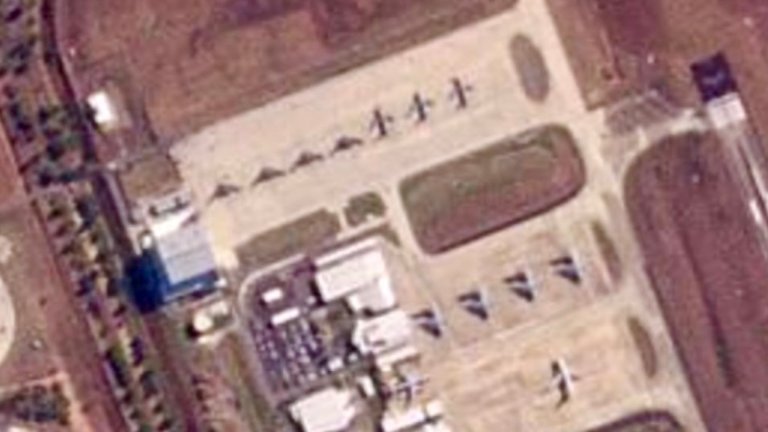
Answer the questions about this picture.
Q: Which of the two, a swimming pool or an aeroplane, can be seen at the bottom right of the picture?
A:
aeroplane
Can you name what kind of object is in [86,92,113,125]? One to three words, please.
house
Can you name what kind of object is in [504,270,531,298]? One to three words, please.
airplane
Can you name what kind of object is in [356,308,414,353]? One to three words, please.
hangar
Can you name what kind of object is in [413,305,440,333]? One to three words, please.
airplane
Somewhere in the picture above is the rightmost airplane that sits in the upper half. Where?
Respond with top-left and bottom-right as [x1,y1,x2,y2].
[448,80,470,106]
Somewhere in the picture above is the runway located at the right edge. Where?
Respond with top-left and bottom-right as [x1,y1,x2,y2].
[716,119,768,238]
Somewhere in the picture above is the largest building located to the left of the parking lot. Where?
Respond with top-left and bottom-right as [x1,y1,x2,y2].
[156,220,219,307]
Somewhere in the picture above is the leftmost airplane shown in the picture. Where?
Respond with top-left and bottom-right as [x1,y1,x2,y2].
[211,181,245,202]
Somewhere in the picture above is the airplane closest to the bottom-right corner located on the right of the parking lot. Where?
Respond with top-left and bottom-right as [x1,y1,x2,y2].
[548,357,587,399]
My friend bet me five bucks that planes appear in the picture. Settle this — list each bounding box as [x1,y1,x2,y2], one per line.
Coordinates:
[370,110,392,136]
[292,150,327,171]
[332,134,366,156]
[458,288,484,316]
[504,270,531,298]
[413,305,440,333]
[254,167,288,188]
[391,371,425,398]
[448,80,470,106]
[552,252,578,279]
[548,357,587,399]
[211,181,245,202]
[409,93,430,119]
